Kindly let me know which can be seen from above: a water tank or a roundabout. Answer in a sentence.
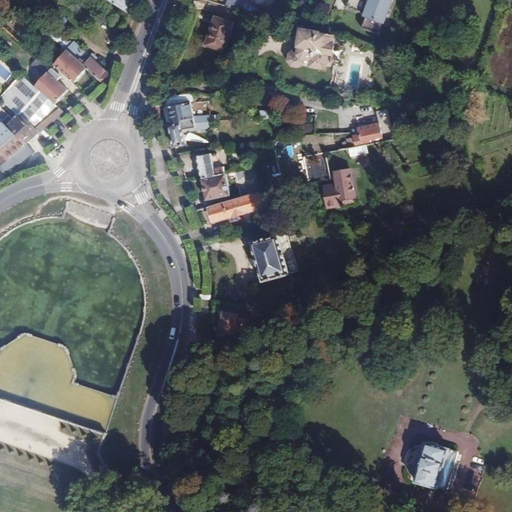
The image shows a roundabout.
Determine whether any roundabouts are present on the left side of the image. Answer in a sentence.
Yes, a roundabout shows up on the left side of the image.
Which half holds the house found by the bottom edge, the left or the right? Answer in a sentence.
The house found by the bottom edge appears in the right half of the scene.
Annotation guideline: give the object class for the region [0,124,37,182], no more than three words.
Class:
building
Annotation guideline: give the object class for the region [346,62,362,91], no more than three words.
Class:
swimming pool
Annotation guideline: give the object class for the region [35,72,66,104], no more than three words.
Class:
house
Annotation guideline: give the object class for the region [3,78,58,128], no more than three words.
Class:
building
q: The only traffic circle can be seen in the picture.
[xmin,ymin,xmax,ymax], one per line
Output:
[53,116,146,208]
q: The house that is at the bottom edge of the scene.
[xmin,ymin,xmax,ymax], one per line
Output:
[404,441,460,490]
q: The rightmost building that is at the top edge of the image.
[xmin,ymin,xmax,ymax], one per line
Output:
[361,0,392,32]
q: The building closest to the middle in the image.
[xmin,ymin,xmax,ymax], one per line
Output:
[250,235,299,284]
